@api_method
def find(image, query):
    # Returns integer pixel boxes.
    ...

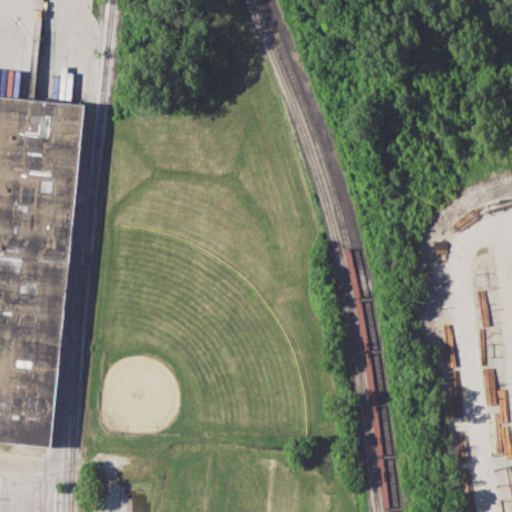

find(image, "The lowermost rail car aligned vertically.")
[378,458,390,510]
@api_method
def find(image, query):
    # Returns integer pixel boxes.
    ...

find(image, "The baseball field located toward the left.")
[101,355,179,433]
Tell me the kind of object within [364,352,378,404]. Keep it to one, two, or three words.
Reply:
rail car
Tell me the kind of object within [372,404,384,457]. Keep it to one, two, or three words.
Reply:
rail car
